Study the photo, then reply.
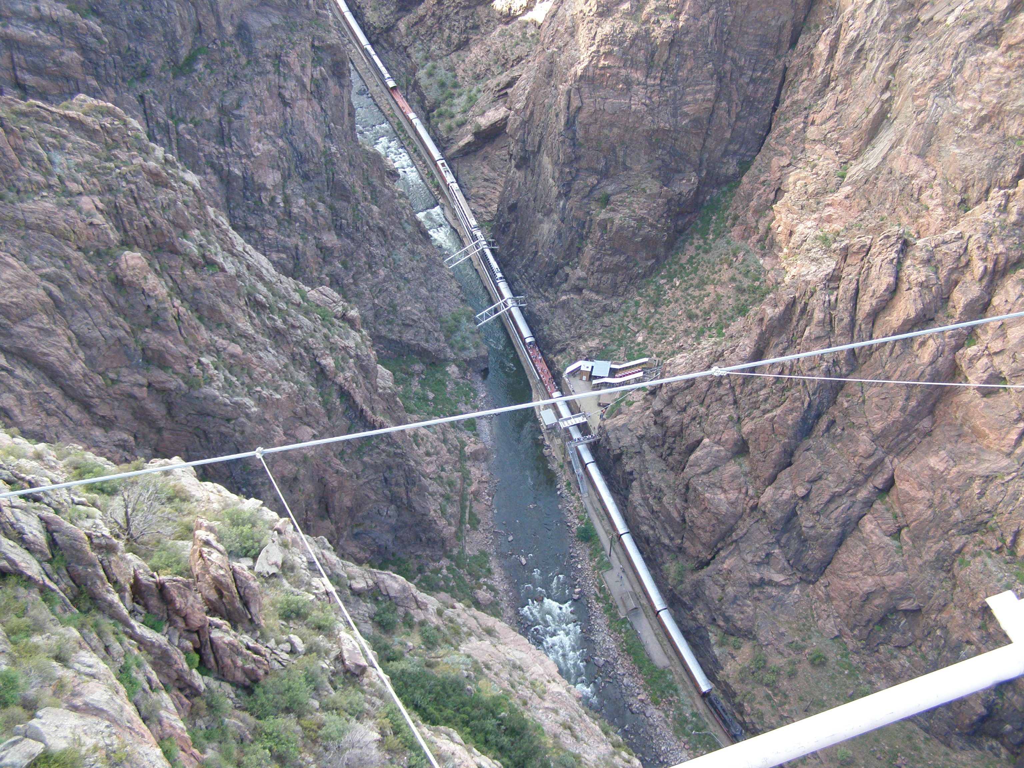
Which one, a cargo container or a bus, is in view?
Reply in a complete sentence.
It is a bus that can be seen here.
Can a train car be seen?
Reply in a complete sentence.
Yes, the picture does show a train car.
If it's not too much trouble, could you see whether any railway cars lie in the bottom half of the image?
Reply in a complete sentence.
Yes, a railway car is visible in the bottom half of the image.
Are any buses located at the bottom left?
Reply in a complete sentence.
No, I see no bus at the bottom left.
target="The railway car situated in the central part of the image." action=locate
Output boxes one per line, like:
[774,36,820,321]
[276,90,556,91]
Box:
[525,336,561,398]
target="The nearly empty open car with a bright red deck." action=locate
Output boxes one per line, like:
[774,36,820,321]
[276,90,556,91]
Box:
[387,80,418,125]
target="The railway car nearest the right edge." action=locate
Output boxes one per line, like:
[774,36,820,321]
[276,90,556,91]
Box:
[701,694,740,747]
